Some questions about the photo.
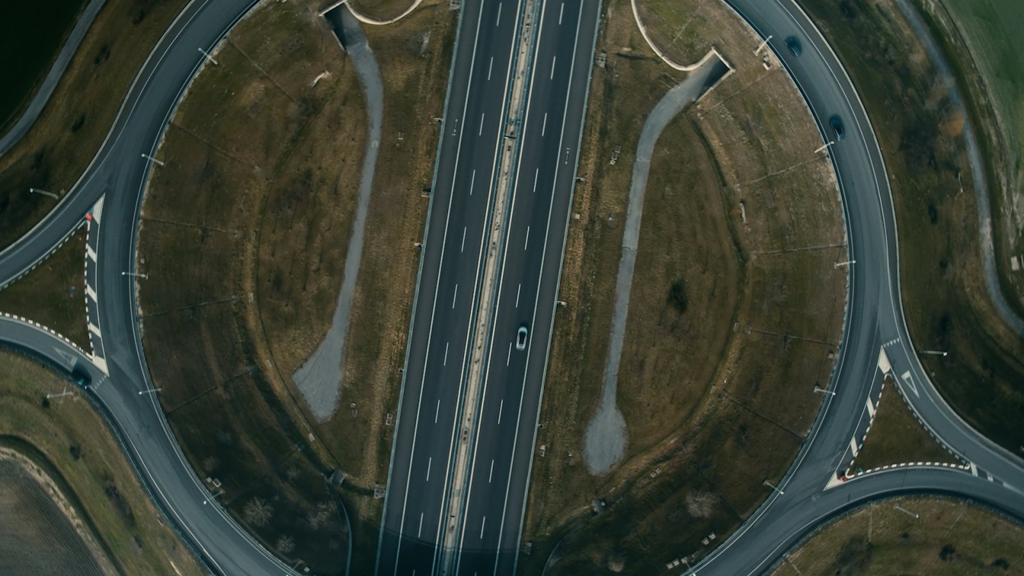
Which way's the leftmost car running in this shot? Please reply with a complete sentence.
Seen from above, the leftmost car lies on a diagonal.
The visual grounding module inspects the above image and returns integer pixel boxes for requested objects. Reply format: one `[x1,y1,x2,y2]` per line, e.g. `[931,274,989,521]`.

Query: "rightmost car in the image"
[829,115,844,140]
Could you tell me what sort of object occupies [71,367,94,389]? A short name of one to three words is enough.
car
